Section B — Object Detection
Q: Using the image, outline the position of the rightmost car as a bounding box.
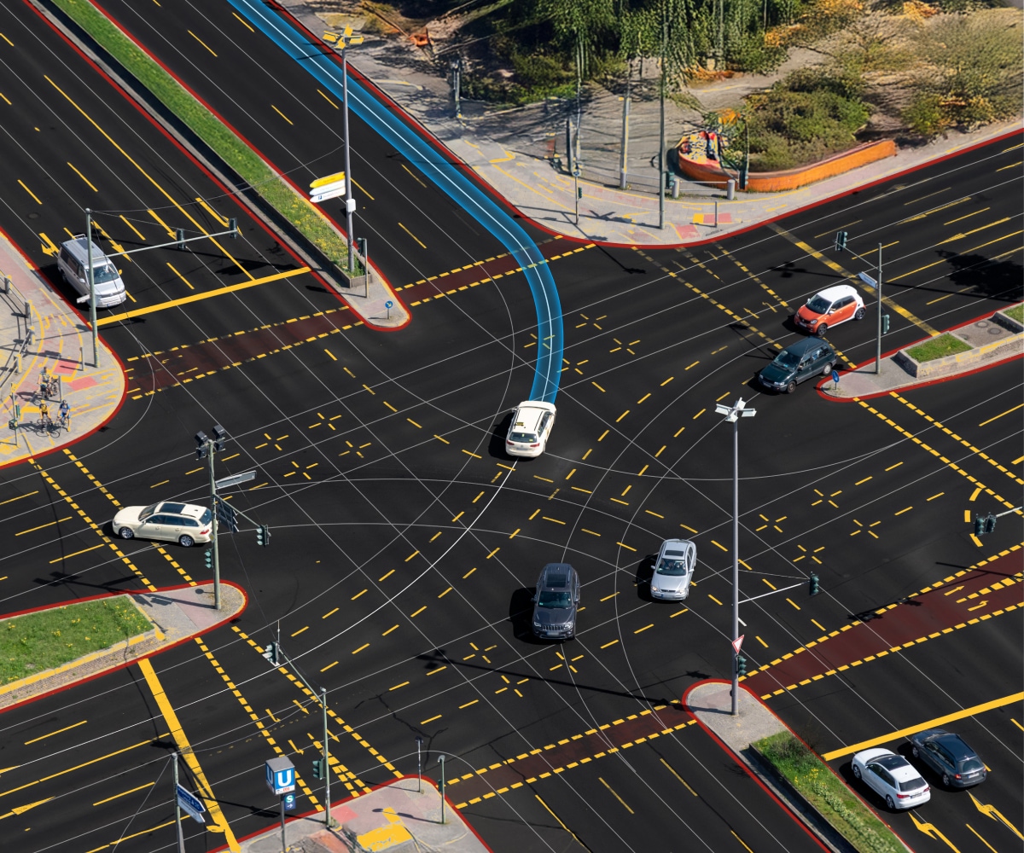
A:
[909,729,990,792]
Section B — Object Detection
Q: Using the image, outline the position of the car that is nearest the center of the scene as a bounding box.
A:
[508,398,560,457]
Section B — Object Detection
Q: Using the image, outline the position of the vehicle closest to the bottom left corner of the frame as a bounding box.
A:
[114,500,212,547]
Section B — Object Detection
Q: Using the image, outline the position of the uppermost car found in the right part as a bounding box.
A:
[796,284,867,337]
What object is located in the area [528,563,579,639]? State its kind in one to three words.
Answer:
car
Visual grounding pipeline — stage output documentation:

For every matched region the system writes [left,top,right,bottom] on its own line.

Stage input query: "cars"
[649,541,695,600]
[853,751,929,810]
[758,337,836,396]
[796,284,867,337]
[528,563,579,639]
[909,729,990,792]
[508,398,560,457]
[114,500,212,547]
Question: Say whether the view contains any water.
No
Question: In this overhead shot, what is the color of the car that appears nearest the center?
white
